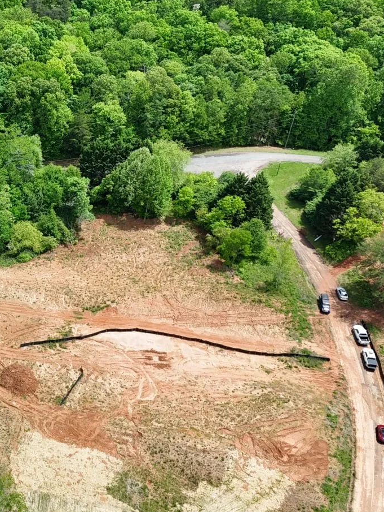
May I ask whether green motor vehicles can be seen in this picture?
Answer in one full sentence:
No, no green motor vehicle can be seen from above.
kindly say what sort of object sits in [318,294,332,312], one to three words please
vehicle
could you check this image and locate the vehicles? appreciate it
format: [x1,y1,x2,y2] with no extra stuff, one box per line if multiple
[318,294,332,312]
[377,423,384,443]
[335,286,352,300]
[363,349,381,372]
[353,325,371,347]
